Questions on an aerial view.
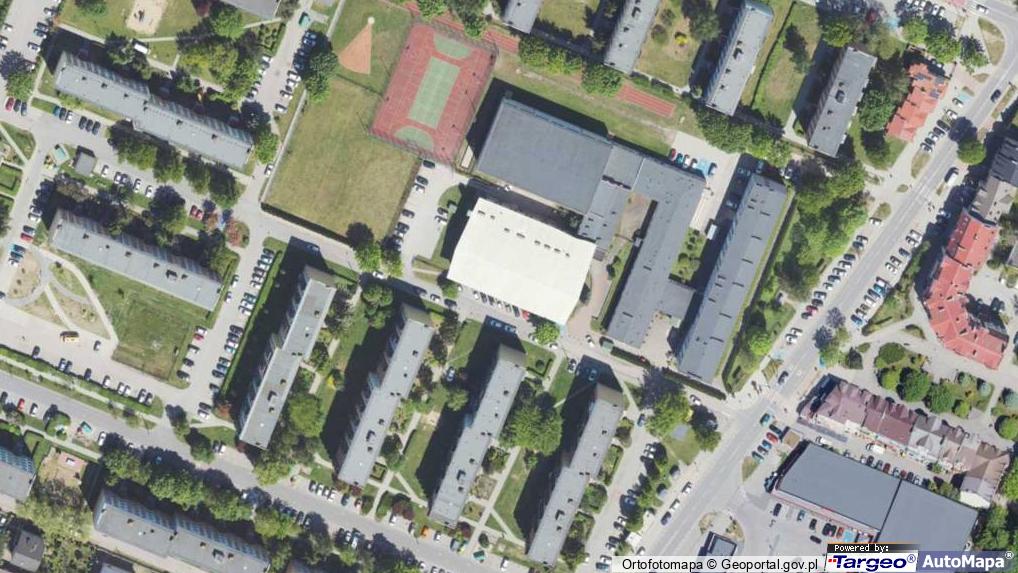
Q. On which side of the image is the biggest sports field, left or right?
left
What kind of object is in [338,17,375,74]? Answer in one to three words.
sports field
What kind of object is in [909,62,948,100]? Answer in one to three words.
house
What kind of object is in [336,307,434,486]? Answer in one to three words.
building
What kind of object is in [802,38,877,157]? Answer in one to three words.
building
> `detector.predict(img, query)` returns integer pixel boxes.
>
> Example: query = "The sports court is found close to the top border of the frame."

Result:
[371,24,497,162]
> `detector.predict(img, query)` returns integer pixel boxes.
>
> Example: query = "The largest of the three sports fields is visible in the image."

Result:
[263,81,422,252]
